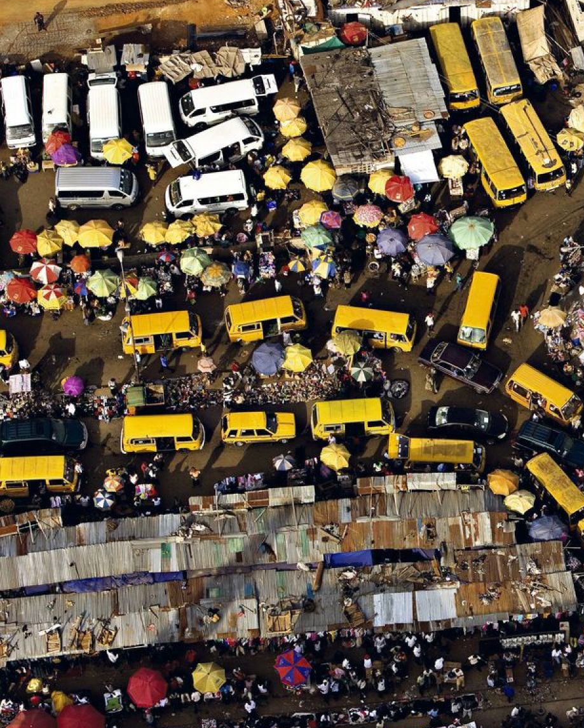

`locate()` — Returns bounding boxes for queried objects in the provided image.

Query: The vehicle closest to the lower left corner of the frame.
[0,456,84,499]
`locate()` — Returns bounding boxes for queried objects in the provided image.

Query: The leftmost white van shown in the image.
[0,74,40,160]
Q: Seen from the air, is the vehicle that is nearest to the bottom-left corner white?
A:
No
